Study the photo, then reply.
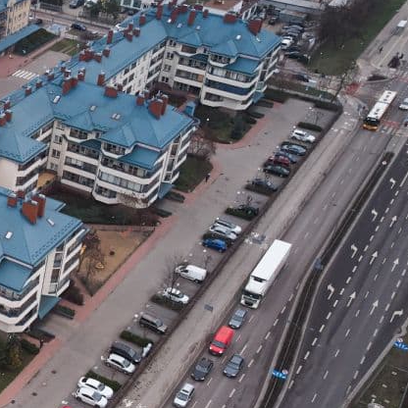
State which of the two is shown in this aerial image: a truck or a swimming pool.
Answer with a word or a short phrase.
truck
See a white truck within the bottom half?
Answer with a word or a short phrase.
Yes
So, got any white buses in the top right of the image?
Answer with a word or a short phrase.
Yes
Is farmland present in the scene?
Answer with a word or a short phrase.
No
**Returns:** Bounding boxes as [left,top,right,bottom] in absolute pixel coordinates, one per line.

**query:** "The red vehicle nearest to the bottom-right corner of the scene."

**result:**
[210,325,233,351]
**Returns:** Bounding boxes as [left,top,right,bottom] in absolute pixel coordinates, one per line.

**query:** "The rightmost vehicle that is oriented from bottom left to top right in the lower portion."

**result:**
[244,237,299,305]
